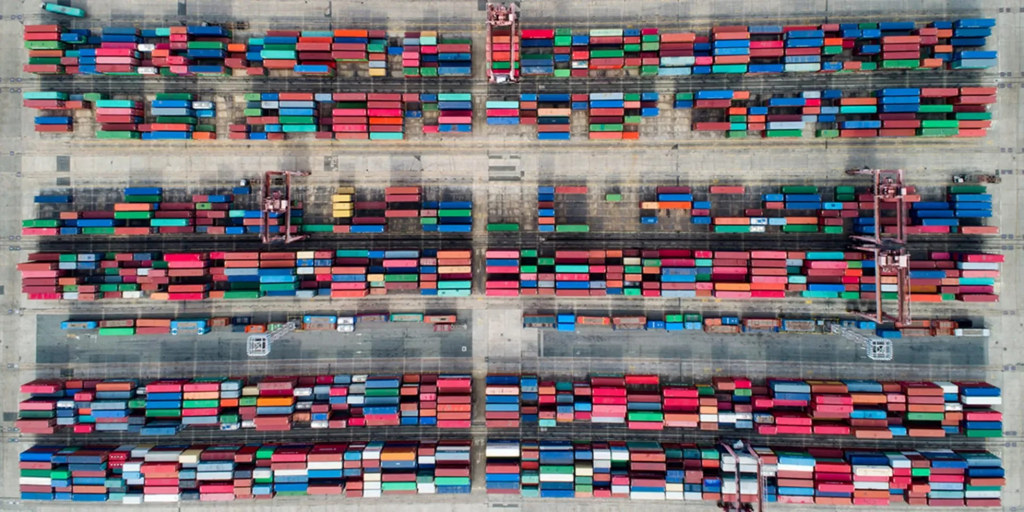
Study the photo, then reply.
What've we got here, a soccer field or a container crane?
container crane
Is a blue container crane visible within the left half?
No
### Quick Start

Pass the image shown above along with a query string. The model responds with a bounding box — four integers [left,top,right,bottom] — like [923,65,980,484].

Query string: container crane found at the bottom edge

[715,436,765,512]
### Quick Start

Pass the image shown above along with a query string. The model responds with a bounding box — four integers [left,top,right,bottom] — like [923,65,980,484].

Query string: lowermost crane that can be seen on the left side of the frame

[263,171,314,243]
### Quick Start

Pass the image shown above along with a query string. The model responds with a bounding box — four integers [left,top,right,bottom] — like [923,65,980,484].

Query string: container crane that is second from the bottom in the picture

[843,242,909,324]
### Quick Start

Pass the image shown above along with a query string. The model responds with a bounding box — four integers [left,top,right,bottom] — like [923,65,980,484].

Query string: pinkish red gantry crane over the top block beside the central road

[486,1,520,88]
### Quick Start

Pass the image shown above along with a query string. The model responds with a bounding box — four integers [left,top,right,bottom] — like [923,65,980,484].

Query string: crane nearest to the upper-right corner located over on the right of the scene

[843,168,906,244]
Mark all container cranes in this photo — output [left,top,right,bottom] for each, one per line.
[263,171,314,243]
[486,1,520,88]
[843,168,906,244]
[843,242,909,324]
[715,436,765,512]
